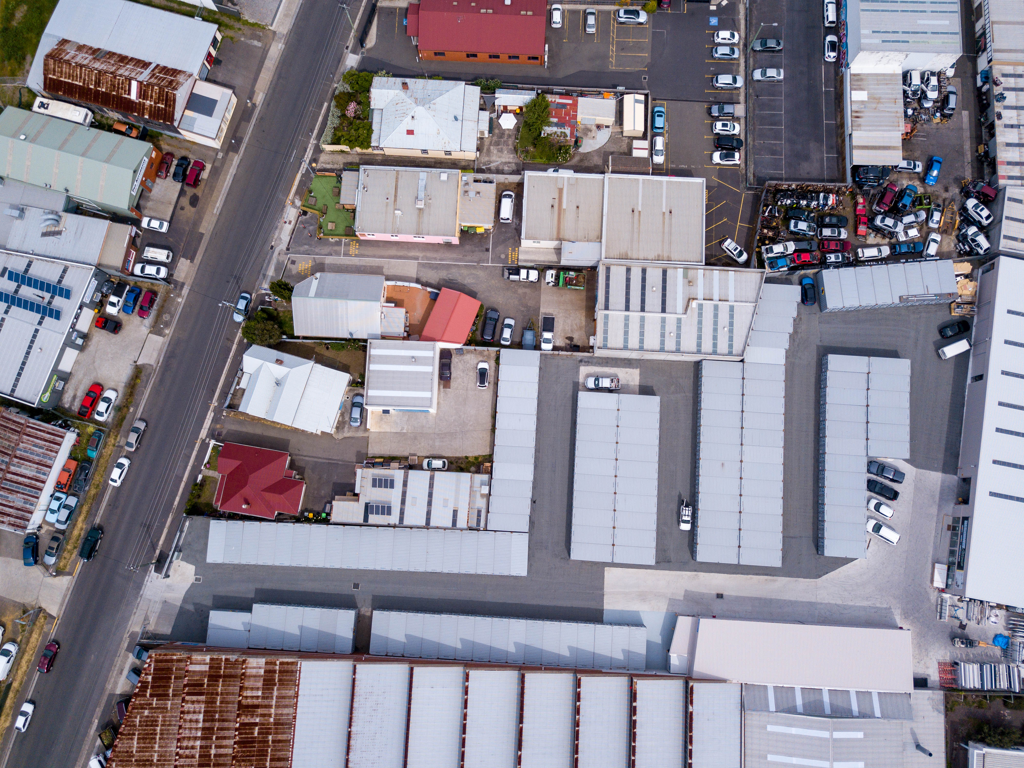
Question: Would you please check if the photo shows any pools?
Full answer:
No, this view has no pool in it.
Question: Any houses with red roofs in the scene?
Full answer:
Yes, a house with a red roof is visible in the scene.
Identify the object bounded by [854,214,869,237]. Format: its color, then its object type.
red car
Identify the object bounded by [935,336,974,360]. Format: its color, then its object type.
white vehicle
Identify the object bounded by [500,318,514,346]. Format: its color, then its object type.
white car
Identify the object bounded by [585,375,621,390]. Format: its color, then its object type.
white vehicle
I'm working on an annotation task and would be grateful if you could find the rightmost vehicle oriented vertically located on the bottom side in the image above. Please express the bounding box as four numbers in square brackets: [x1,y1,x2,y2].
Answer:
[679,502,693,533]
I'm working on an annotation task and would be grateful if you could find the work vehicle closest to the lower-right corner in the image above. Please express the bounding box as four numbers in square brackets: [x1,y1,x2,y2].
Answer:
[951,637,993,649]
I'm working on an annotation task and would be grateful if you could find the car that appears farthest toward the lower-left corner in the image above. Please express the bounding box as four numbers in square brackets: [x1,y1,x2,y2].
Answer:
[12,700,36,734]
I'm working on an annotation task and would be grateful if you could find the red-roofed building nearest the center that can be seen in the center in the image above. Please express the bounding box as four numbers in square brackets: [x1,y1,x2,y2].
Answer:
[420,288,481,346]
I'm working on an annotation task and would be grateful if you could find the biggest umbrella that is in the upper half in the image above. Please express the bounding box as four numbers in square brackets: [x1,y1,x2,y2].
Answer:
[499,114,517,129]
